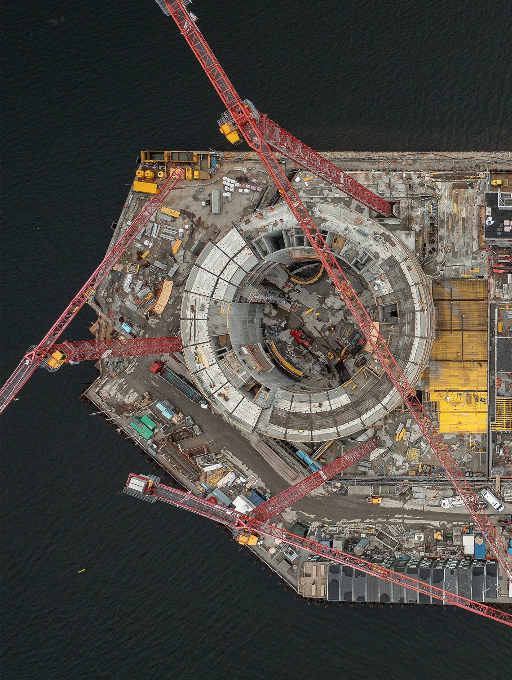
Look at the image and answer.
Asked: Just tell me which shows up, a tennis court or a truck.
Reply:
truck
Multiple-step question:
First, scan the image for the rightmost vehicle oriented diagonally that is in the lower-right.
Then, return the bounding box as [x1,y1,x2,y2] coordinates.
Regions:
[480,488,504,513]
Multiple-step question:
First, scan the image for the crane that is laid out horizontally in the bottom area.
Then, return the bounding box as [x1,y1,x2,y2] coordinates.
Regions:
[123,424,512,628]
